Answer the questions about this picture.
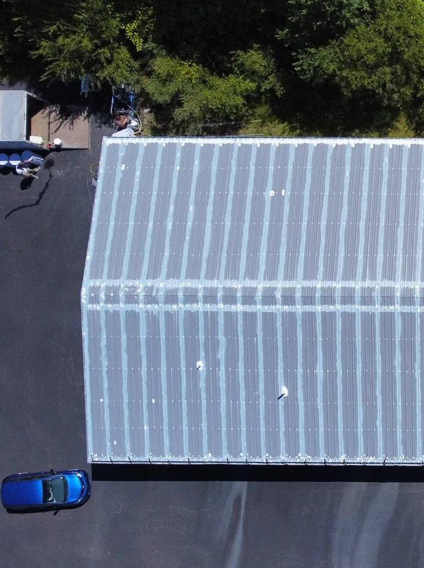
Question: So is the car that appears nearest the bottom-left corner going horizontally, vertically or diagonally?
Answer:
horizontally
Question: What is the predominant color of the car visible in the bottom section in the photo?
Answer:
blue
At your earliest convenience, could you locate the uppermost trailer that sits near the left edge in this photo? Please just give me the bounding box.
[0,91,100,156]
